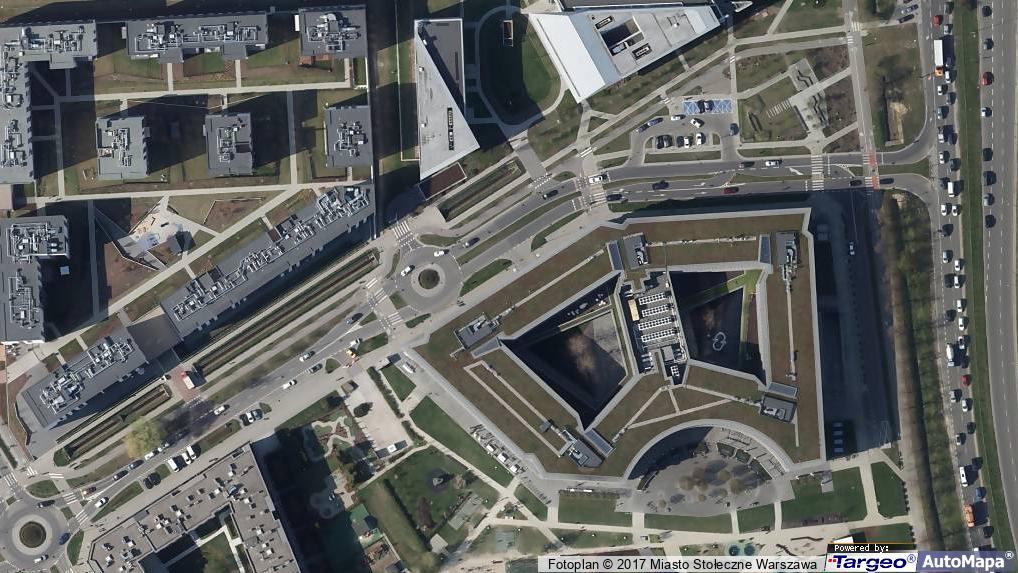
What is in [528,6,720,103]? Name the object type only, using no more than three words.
building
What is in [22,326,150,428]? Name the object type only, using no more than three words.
building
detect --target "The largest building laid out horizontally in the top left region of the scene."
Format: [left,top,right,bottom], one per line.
[121,10,270,63]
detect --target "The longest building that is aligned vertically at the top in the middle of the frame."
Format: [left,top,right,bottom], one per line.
[415,18,480,180]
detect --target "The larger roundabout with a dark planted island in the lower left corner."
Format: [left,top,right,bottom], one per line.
[13,515,53,555]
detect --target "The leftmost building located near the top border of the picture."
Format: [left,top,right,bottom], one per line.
[0,19,101,185]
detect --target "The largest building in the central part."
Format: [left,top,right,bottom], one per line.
[404,208,826,480]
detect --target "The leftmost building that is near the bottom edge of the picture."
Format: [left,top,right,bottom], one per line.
[88,441,305,573]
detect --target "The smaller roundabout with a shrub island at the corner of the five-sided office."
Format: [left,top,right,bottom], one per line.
[412,261,446,295]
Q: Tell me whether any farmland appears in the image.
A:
No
